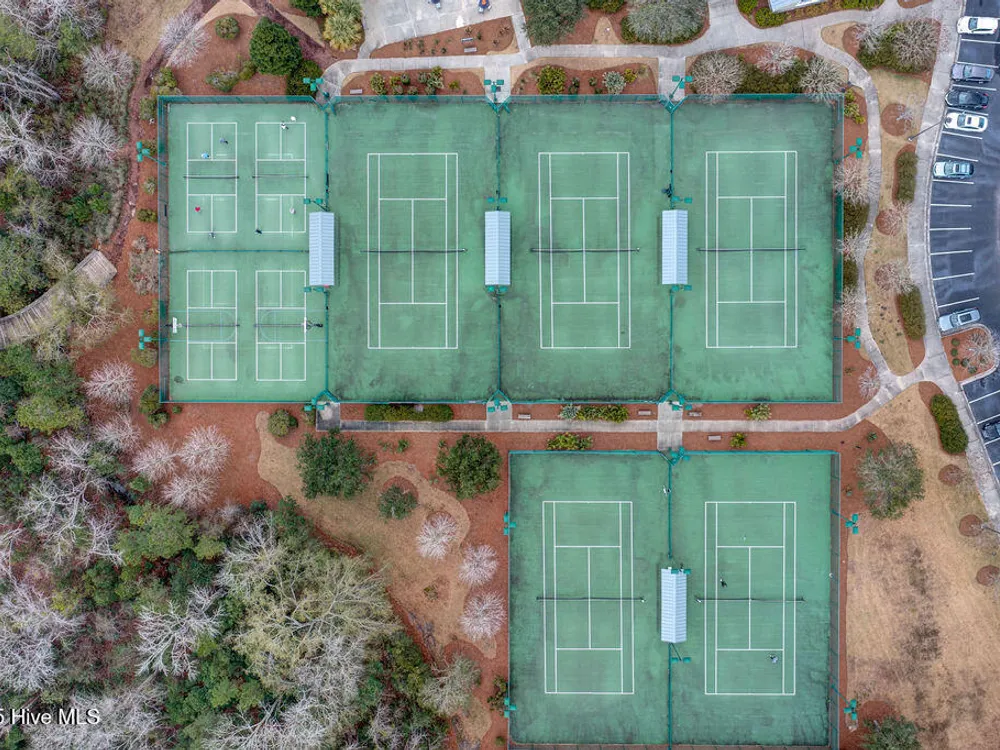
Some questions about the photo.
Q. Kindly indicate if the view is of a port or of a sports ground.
sports ground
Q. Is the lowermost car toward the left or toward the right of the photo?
right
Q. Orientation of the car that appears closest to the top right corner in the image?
from left to right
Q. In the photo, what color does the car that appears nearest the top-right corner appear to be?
white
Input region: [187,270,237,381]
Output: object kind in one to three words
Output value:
sports court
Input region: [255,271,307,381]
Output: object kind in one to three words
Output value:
sports court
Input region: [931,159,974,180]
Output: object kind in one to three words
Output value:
car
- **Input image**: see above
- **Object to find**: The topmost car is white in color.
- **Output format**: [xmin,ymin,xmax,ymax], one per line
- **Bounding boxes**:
[953,15,998,38]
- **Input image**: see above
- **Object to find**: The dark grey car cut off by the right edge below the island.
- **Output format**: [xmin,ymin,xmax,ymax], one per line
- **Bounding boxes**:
[978,415,1000,438]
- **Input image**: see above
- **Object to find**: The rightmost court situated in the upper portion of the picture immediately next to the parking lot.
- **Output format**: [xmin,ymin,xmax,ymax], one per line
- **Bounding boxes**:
[672,103,833,402]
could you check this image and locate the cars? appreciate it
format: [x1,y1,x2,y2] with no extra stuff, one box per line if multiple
[953,15,998,38]
[978,415,1000,438]
[948,62,994,85]
[942,89,988,112]
[941,111,986,134]
[931,159,974,180]
[936,308,981,332]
